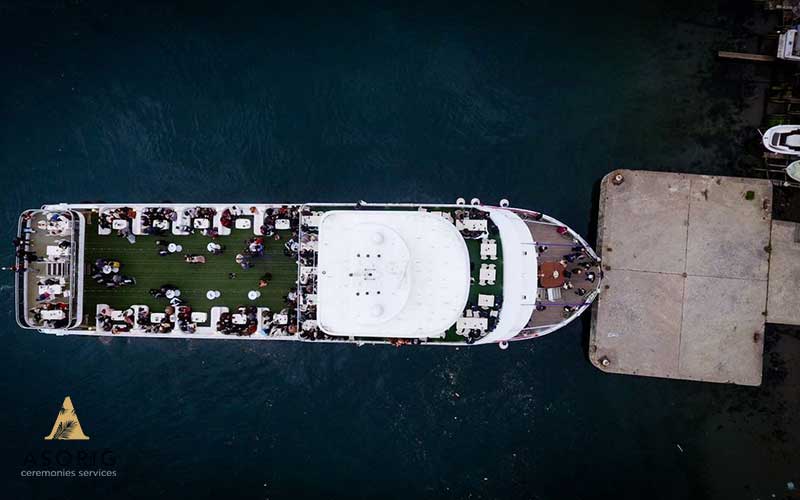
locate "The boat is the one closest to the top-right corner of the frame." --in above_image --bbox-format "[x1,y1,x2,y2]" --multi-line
[773,30,800,62]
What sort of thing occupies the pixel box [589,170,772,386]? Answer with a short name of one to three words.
pier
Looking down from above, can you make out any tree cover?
No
